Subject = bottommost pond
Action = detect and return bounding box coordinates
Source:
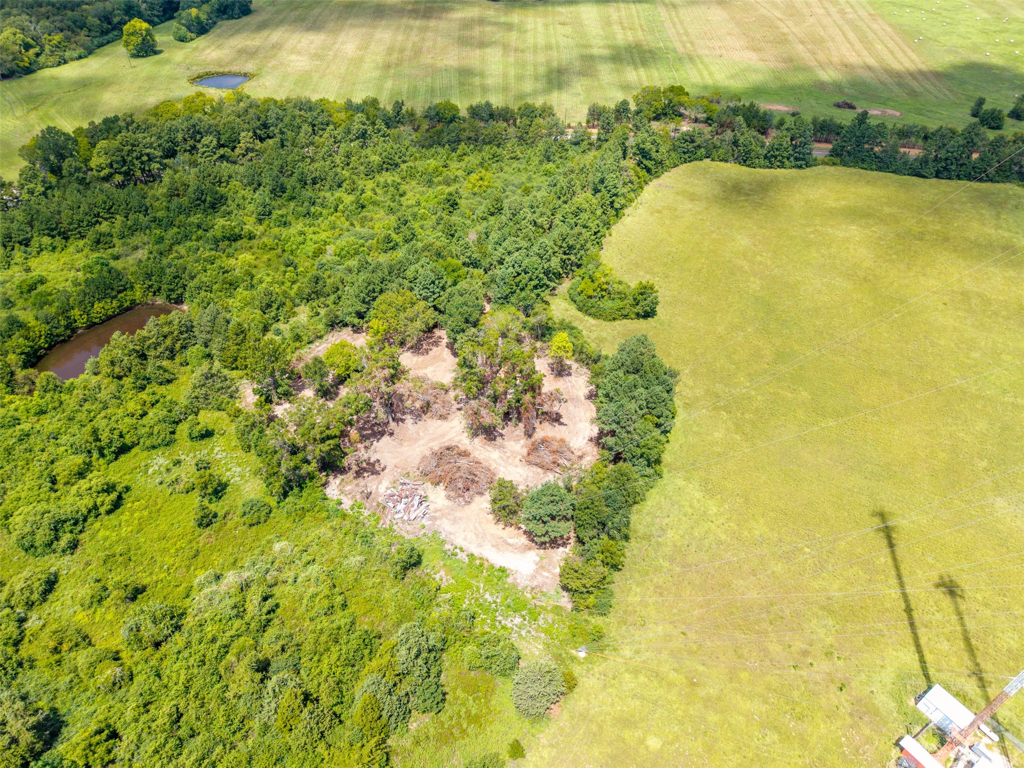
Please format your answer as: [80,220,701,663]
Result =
[22,304,185,399]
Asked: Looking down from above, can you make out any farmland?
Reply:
Yes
